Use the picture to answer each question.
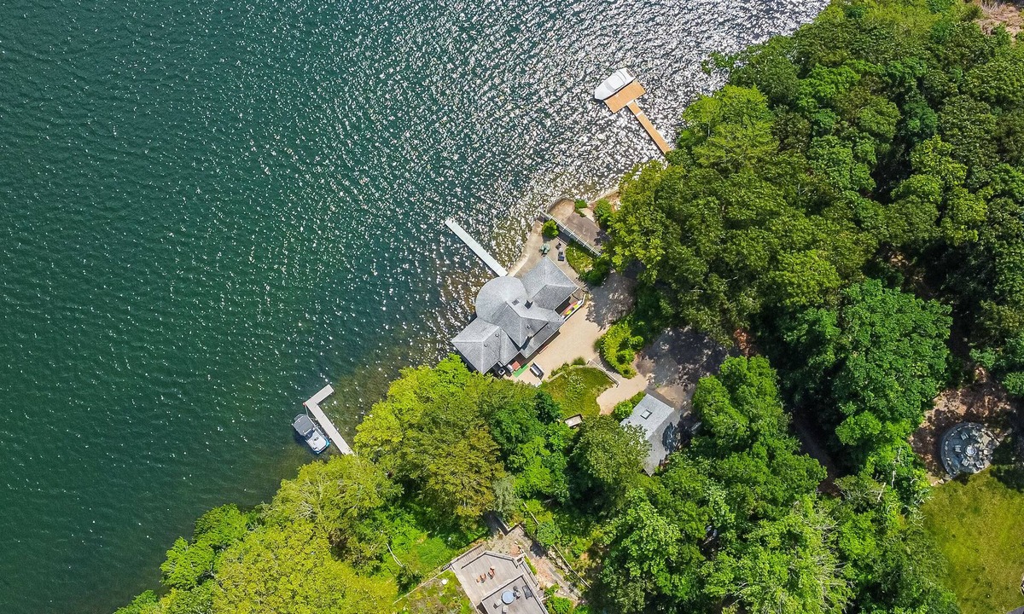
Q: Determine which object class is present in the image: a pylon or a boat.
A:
boat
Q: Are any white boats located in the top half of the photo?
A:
Yes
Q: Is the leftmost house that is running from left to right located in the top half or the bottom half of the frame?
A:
bottom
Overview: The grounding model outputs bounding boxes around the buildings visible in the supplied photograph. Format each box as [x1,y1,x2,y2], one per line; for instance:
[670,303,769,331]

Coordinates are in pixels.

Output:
[450,256,580,375]
[390,544,554,614]
[621,393,686,477]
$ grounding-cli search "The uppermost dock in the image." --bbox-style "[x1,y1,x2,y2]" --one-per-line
[604,79,671,159]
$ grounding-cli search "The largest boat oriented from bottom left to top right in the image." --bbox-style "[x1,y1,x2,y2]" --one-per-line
[594,69,634,100]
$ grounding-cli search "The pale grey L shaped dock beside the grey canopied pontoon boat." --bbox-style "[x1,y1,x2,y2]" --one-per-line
[305,385,352,457]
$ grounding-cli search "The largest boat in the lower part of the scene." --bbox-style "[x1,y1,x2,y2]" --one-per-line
[290,413,329,453]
